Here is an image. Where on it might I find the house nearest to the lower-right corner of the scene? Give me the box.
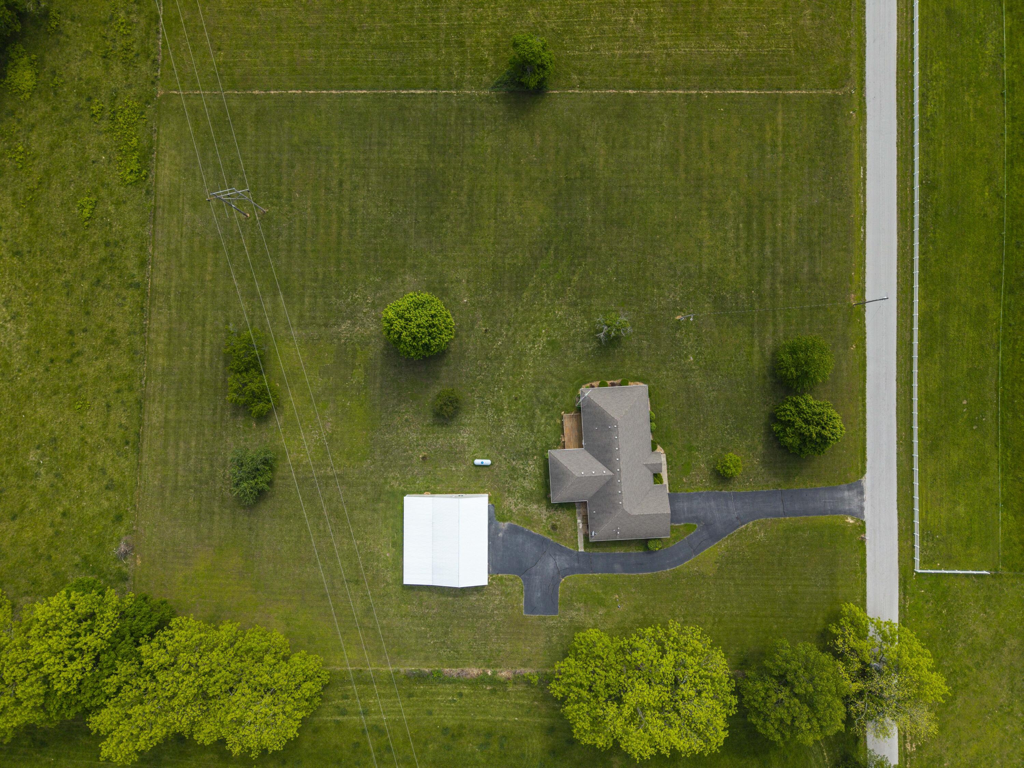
[548,384,672,542]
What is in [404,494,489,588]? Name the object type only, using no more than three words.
barn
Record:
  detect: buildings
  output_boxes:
[404,494,489,588]
[548,384,672,542]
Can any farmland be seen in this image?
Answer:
Yes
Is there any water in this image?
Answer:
No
